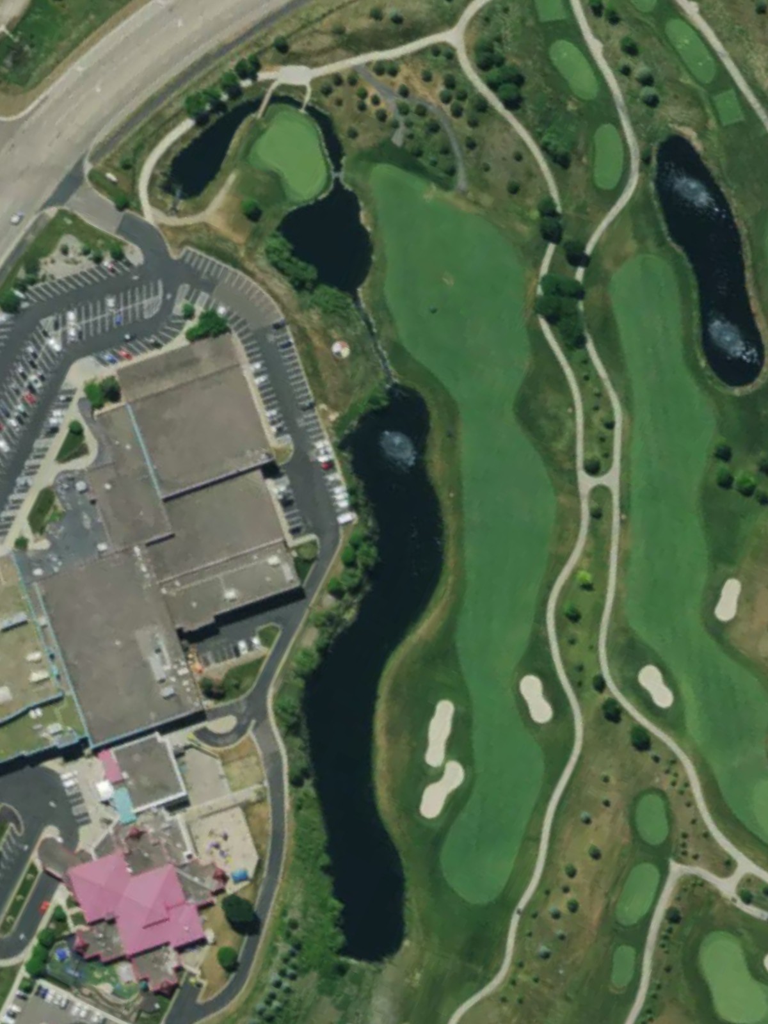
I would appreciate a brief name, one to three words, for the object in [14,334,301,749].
building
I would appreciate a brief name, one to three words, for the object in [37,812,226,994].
building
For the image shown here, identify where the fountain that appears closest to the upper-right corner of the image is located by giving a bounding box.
[683,179,719,217]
